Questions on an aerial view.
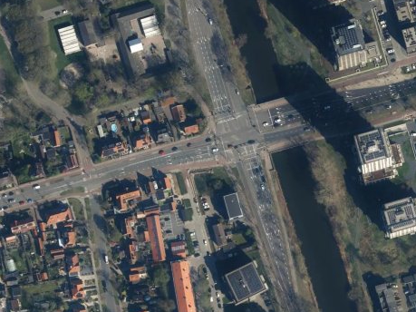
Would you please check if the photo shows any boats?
No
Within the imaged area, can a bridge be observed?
Yes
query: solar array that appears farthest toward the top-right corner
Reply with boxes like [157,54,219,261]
[338,26,359,48]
